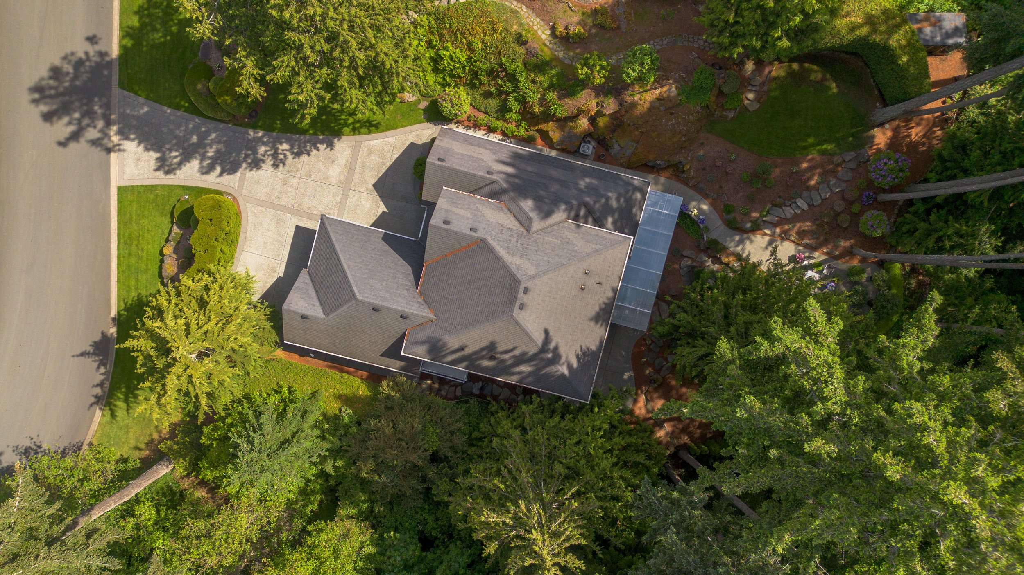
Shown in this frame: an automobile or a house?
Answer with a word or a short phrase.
house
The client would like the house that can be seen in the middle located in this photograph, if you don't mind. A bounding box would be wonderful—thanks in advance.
[281,124,683,405]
